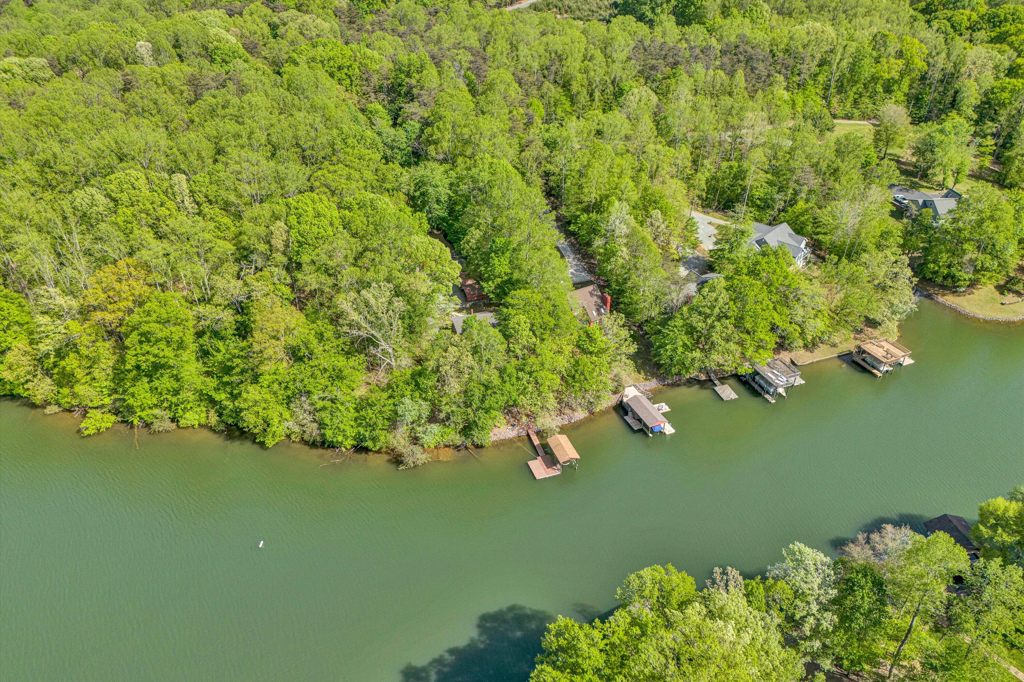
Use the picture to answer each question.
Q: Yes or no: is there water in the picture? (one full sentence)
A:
Yes, the picture does contain water.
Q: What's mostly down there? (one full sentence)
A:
The bulk of the photo consists of trees.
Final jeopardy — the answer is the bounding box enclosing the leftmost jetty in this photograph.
[525,419,580,481]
